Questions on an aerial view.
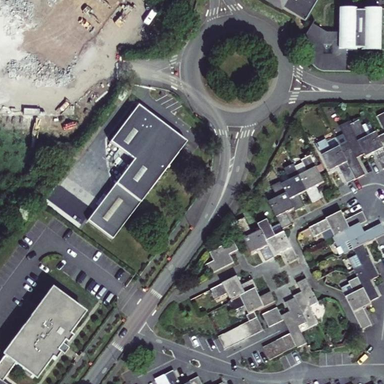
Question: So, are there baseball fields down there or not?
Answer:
No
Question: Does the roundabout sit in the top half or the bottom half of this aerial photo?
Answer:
top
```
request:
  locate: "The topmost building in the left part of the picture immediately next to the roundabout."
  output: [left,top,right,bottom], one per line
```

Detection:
[48,104,188,242]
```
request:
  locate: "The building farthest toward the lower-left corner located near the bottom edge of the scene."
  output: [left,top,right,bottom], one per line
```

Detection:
[0,286,88,381]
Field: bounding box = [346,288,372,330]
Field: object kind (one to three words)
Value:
house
